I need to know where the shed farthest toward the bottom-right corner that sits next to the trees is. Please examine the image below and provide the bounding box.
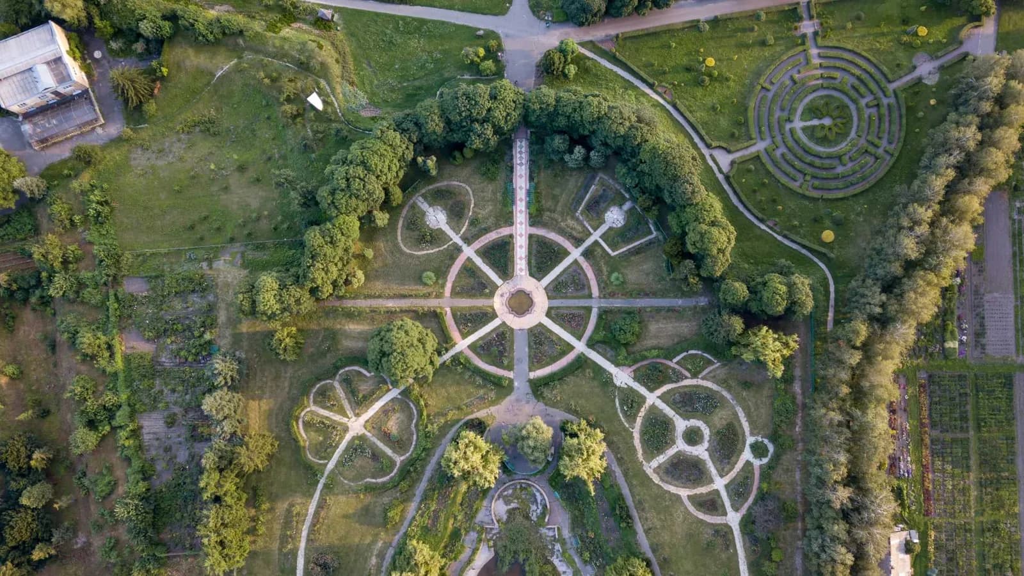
[884,526,912,576]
